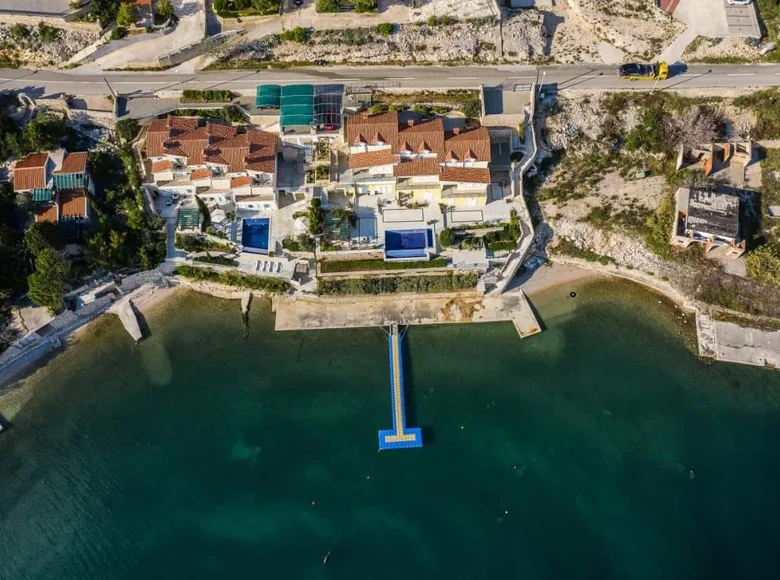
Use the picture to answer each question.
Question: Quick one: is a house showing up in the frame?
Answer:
Yes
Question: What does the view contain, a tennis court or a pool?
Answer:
pool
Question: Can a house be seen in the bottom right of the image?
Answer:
No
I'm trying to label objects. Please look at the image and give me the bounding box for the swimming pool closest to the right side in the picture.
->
[383,227,436,262]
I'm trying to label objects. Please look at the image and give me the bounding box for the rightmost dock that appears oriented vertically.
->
[378,325,425,458]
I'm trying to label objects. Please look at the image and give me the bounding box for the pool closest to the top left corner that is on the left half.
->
[241,216,270,255]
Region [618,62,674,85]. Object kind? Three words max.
truck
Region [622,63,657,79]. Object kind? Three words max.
car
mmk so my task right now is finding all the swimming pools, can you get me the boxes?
[241,216,270,255]
[383,227,436,262]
